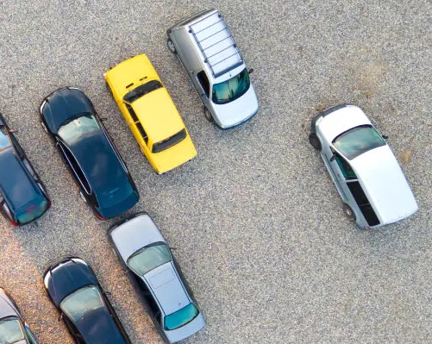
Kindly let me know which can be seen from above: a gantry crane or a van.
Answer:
van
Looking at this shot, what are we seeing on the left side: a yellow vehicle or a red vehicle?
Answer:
yellow vehicle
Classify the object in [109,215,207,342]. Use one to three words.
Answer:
car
